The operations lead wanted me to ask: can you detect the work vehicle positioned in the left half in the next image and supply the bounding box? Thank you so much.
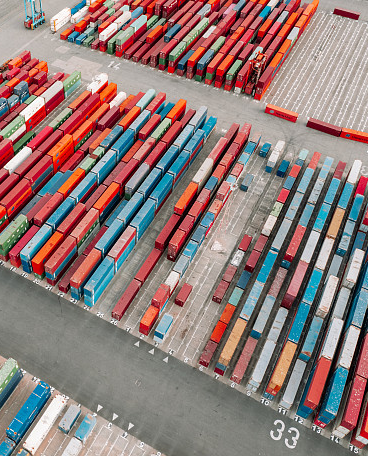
[23,0,47,30]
